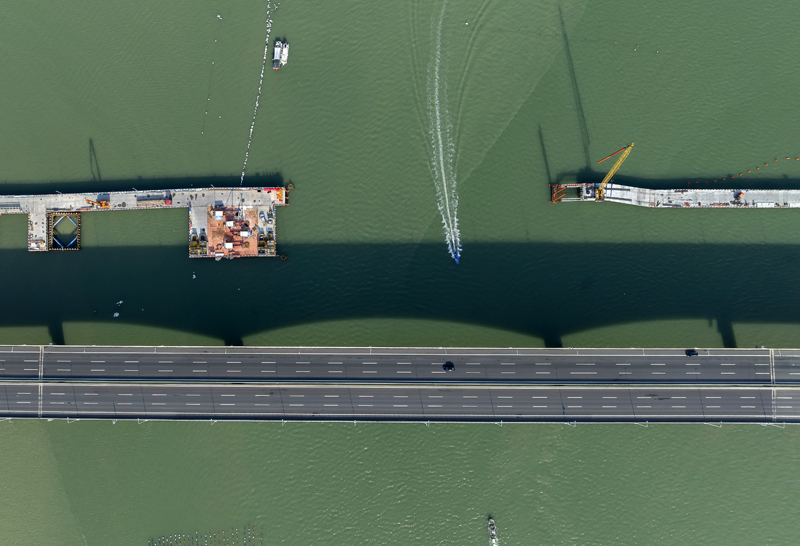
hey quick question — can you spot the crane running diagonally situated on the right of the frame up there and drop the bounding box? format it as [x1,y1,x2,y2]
[594,143,634,203]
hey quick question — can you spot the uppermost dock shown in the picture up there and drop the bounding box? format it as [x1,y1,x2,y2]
[28,212,49,252]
